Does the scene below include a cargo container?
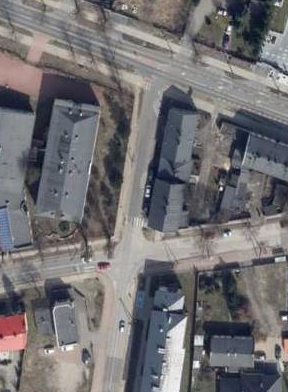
No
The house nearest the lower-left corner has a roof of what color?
red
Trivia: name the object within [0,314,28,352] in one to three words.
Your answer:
house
